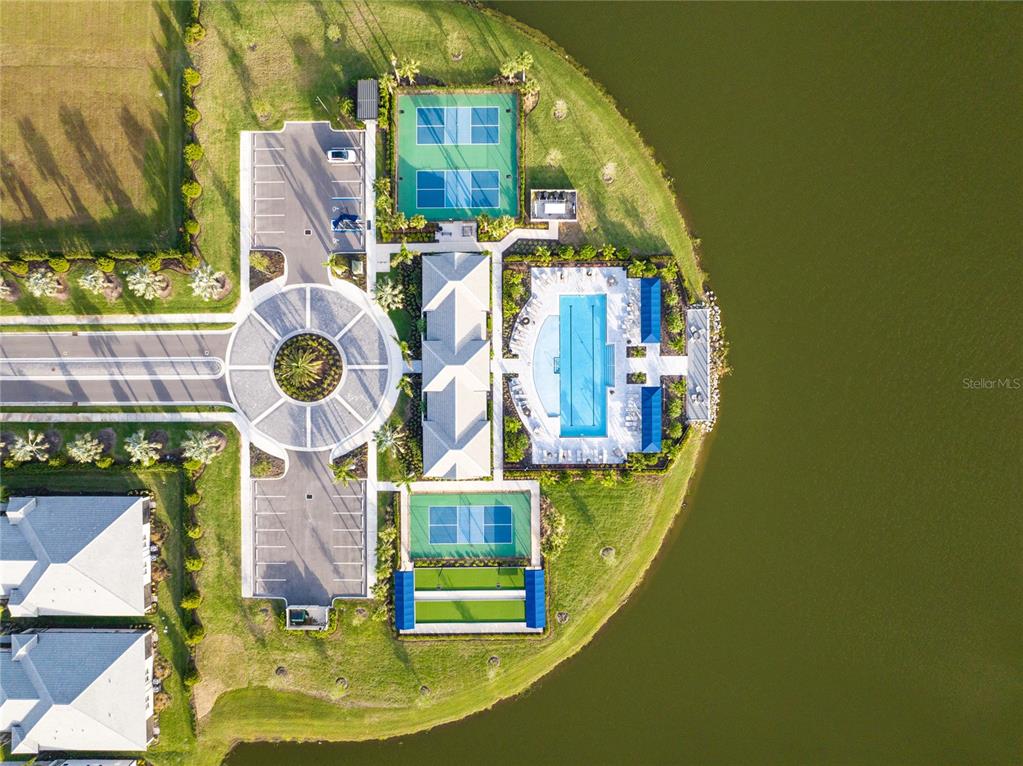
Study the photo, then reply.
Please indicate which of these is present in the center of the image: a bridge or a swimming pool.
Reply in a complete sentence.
Visible in the center of the image is a swimming pool.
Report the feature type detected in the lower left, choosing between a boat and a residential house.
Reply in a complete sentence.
The one visible in the lower left is a residential house.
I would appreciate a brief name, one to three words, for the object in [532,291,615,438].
swimming pool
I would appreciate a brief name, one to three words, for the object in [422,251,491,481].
building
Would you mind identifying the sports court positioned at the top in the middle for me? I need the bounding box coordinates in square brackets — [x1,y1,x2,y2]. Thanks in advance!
[397,93,520,223]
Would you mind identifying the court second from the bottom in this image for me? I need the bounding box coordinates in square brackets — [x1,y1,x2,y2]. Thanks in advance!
[409,491,532,560]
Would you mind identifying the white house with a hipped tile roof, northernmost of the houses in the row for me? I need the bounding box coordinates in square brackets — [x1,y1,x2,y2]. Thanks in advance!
[0,496,150,617]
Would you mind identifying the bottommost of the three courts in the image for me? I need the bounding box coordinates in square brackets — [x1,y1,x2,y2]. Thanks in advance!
[399,567,543,633]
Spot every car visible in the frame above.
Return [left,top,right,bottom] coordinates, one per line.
[327,147,356,162]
